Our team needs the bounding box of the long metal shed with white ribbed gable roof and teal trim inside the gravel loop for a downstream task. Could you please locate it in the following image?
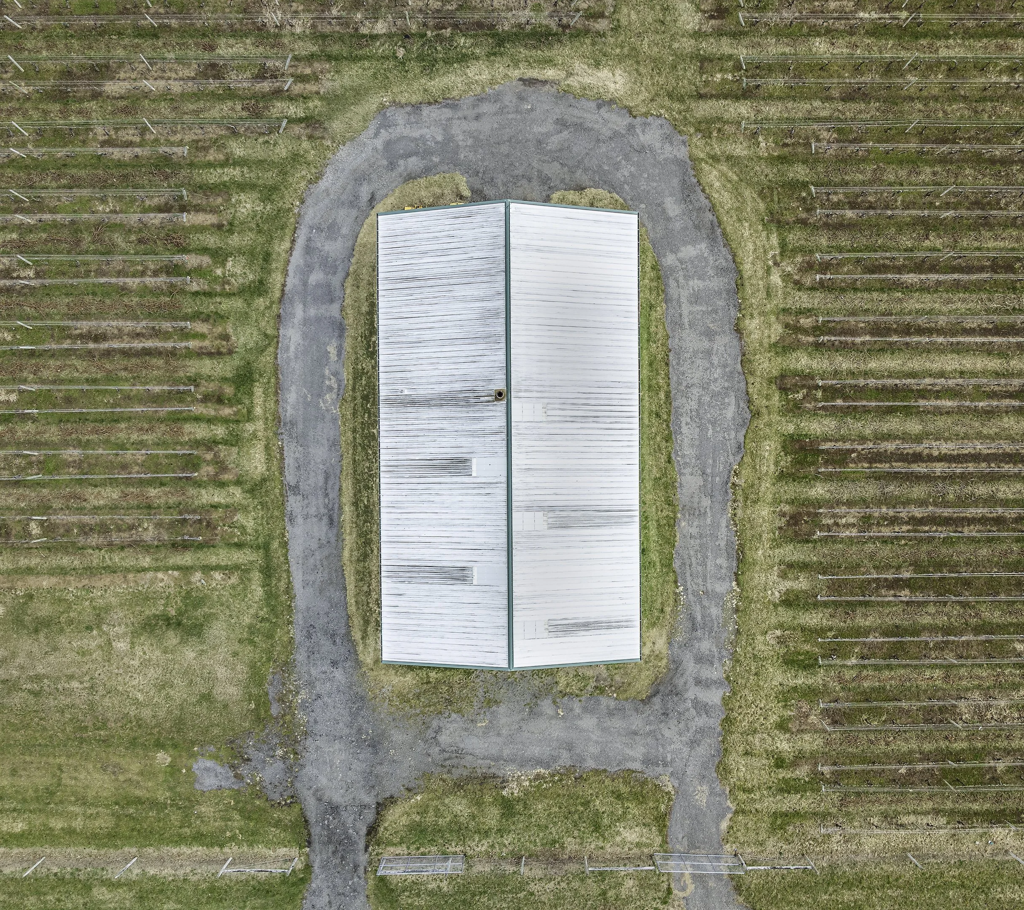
[378,199,642,671]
